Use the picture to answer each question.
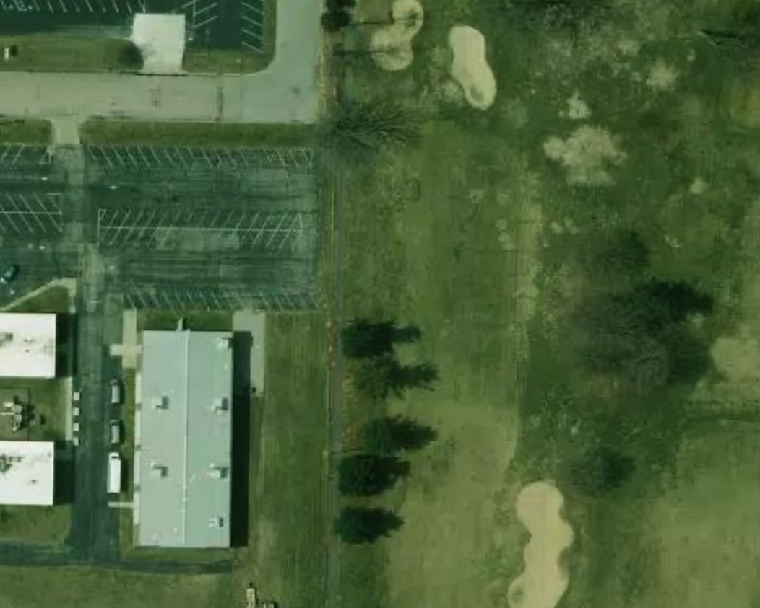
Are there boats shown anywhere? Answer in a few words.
No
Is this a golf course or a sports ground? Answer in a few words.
golf course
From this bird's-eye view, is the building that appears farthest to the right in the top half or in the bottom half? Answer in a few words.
bottom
